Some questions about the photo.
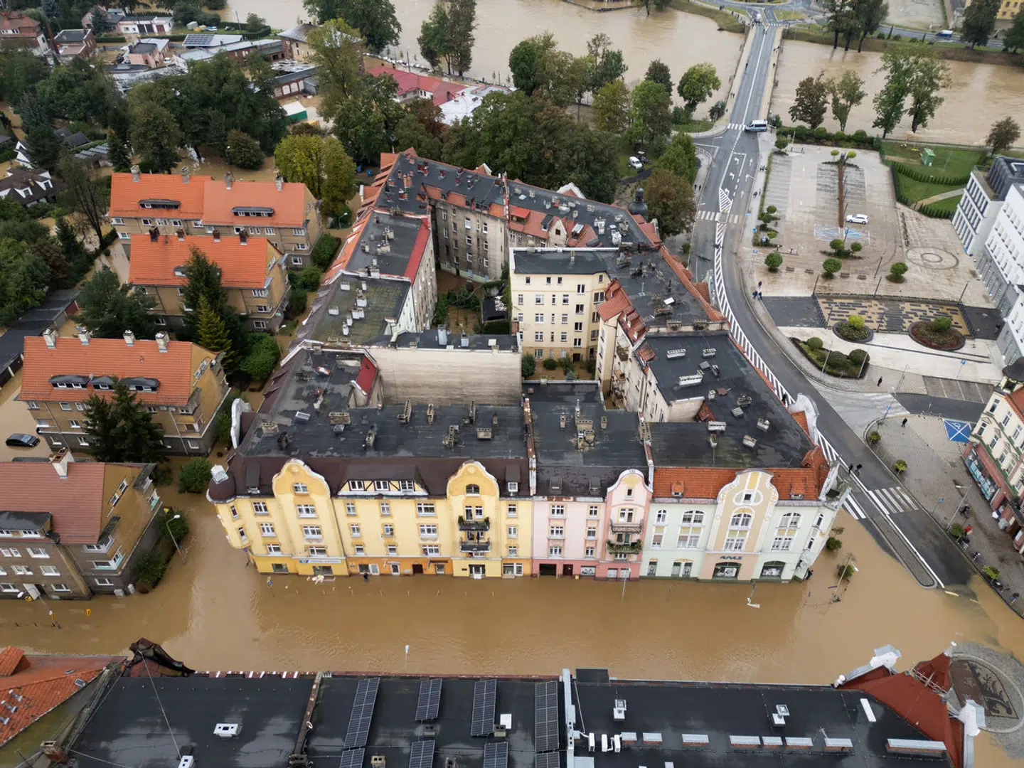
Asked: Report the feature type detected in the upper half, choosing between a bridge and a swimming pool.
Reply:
bridge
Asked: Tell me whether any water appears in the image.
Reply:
Yes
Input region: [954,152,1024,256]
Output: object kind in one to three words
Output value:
building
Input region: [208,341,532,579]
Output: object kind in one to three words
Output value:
house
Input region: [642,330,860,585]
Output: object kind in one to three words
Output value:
house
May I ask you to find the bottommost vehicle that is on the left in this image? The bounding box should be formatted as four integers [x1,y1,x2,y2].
[2,434,41,448]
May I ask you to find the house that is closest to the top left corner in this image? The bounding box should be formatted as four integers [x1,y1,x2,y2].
[0,8,47,55]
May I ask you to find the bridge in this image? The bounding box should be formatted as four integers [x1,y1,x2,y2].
[723,24,786,129]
